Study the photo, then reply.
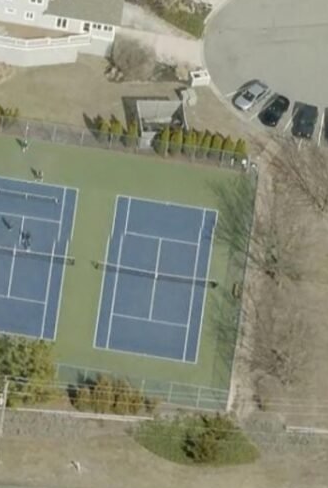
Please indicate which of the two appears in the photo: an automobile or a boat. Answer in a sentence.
It is an automobile that can be seen here.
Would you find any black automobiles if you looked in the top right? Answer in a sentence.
Yes, you'll find a black automobile in the top right.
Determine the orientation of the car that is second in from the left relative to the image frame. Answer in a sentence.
Seen from above, the car that is second in from the left lies at an angle.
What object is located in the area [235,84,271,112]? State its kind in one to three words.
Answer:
car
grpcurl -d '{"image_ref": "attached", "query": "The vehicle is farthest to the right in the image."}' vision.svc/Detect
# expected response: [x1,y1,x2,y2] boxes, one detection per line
[294,102,319,140]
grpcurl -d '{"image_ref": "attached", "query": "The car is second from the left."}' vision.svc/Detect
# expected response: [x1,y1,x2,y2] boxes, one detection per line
[261,96,294,127]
